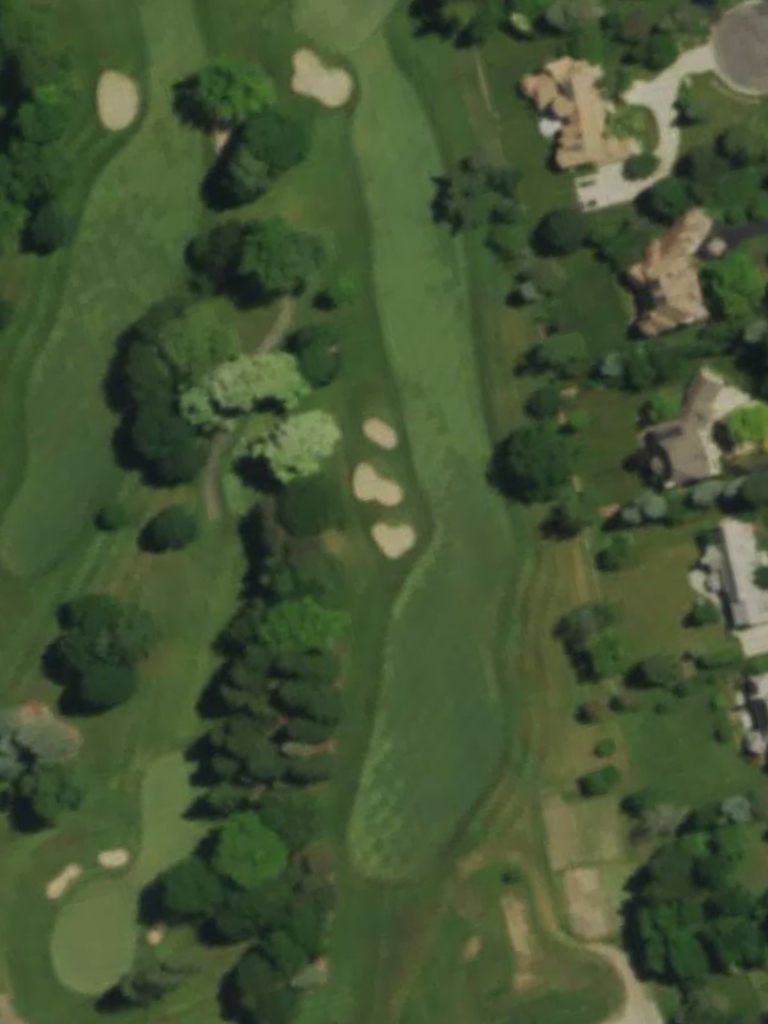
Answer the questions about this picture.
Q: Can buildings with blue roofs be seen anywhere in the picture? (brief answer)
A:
No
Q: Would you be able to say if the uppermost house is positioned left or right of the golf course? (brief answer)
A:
to the right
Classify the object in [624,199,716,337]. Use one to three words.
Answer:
house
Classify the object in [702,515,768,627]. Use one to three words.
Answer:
house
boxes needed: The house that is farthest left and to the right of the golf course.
[520,54,642,170]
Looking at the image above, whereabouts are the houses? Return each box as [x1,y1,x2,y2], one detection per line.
[746,672,768,762]
[644,366,725,485]
[624,199,716,337]
[702,515,768,627]
[520,54,642,170]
